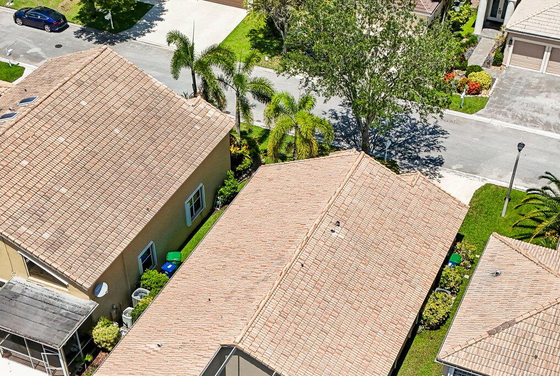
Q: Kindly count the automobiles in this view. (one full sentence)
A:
The photo contains exactly 1 automobile.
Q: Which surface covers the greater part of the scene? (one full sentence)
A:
The scene is dominated by buildings.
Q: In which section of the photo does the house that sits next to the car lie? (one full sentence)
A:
The house that sits next to the car appears toward the left of the photo.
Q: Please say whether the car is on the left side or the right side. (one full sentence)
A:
It is on the left.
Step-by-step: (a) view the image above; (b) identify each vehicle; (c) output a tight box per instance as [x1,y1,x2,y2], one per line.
[15,4,70,33]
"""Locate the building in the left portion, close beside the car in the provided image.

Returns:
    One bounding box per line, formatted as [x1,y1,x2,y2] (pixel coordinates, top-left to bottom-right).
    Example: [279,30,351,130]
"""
[0,32,243,321]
